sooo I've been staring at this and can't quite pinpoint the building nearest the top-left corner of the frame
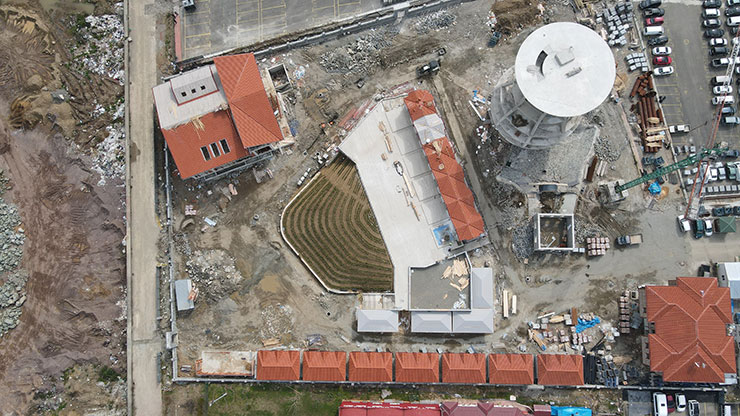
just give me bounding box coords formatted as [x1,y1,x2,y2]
[152,53,291,185]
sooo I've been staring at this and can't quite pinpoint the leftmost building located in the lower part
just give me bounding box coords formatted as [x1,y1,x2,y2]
[175,280,197,310]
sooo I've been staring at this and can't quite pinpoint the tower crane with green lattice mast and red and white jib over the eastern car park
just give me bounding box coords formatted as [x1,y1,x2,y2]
[604,14,740,224]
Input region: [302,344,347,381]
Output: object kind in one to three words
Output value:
house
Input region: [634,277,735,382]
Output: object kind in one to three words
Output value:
building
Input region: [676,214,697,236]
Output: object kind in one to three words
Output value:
truck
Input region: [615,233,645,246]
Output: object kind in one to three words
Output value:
vehicle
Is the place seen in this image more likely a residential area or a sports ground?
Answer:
residential area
